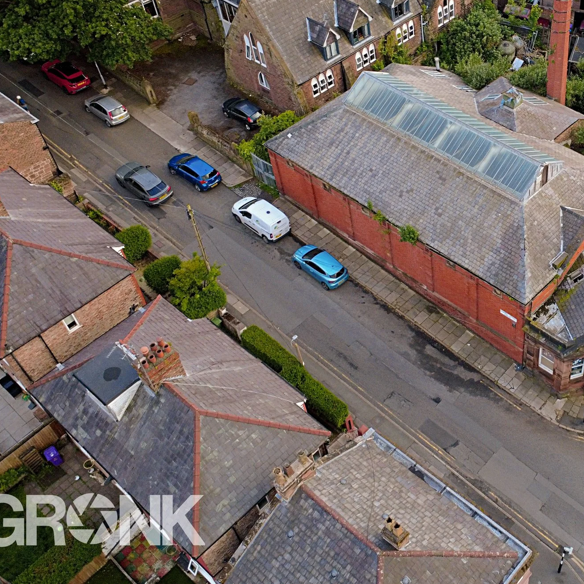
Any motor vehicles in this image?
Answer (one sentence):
Yes, a motor vehicle is visible in the scene.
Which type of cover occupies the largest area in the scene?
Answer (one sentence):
The largest share of the image is taken up by buildings.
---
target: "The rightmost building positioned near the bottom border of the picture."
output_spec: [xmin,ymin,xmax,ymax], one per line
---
[214,421,552,584]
